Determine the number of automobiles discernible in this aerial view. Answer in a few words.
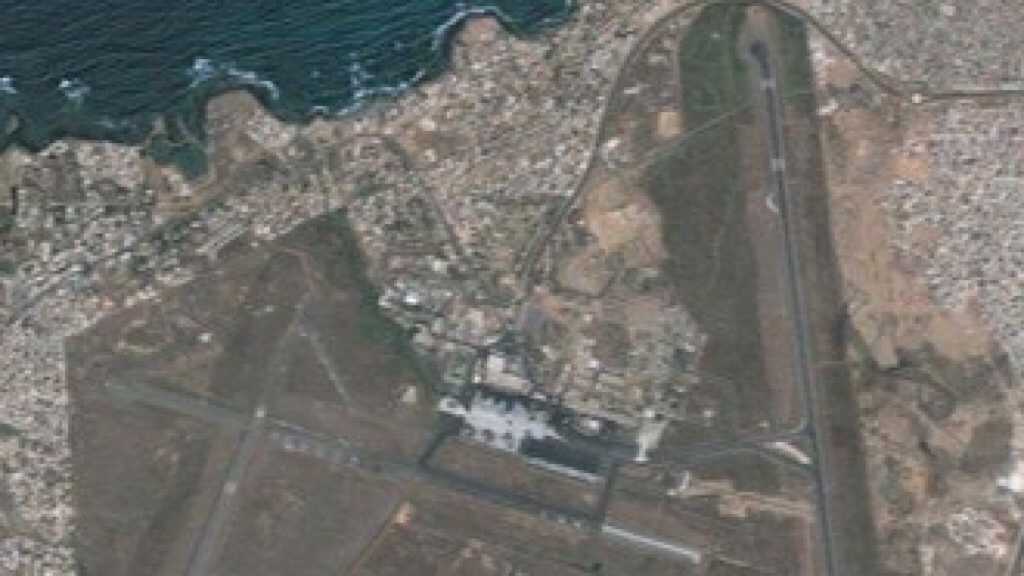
0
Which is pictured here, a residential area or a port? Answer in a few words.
residential area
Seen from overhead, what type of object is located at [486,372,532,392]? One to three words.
building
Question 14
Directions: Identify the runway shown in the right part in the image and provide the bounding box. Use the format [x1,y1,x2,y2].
[750,40,840,576]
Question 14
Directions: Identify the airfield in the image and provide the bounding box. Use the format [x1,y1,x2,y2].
[106,40,840,576]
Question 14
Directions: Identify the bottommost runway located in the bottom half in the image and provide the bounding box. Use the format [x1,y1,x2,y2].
[181,315,306,576]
